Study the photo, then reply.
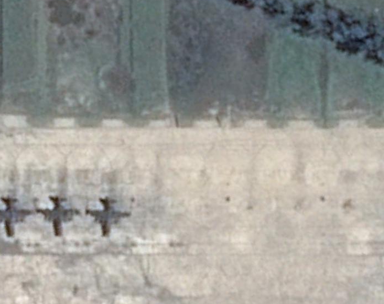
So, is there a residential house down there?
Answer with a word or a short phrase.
No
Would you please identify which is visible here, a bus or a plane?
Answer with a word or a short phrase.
plane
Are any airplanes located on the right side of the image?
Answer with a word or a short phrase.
No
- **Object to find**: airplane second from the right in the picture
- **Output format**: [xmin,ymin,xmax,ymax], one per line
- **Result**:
[39,196,79,235]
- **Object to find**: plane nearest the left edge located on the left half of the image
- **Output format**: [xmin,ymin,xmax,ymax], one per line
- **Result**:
[0,198,32,239]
